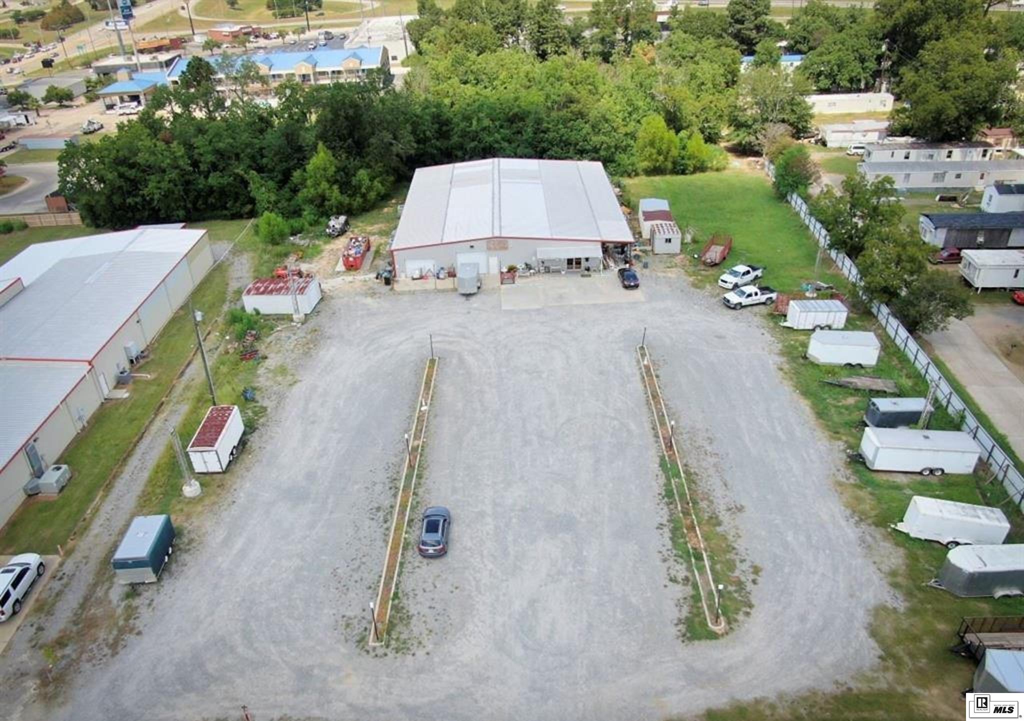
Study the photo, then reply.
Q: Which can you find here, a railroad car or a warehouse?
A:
warehouse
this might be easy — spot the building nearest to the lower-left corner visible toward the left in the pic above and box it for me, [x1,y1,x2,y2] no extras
[0,224,218,531]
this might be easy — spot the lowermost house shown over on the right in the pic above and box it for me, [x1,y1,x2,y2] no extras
[965,254,1024,290]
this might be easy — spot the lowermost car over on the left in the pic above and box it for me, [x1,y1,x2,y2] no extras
[0,549,46,615]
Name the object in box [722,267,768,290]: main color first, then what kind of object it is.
white truck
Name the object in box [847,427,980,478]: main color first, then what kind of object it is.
white trailer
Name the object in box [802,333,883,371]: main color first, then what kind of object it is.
white trailer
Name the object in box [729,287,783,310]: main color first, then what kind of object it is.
white truck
